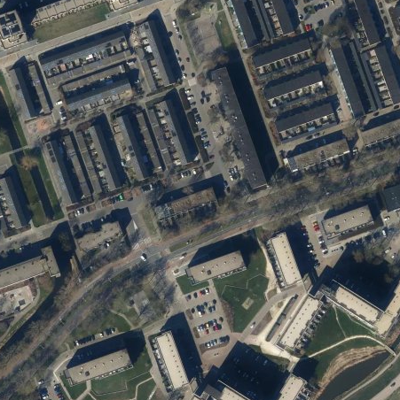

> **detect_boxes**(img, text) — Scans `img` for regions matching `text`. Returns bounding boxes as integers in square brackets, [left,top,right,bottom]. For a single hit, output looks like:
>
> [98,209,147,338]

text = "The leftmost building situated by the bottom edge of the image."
[68,350,132,387]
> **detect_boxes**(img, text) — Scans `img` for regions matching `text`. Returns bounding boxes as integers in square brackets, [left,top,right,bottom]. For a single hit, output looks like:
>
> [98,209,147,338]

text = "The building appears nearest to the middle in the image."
[155,188,218,220]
